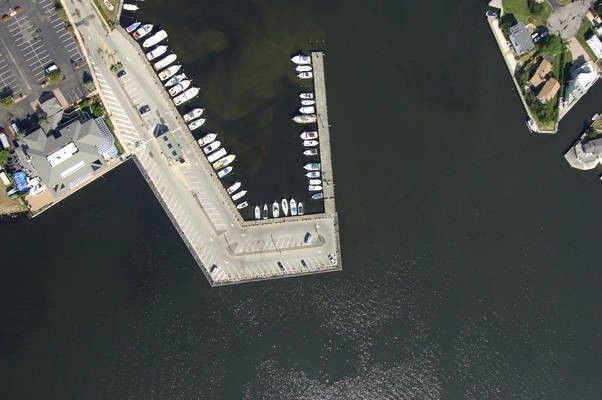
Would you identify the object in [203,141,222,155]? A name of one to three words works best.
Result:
boat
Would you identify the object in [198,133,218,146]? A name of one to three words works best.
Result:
boat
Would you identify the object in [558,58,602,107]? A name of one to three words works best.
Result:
house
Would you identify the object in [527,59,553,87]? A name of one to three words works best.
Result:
house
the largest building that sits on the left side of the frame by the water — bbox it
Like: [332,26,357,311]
[21,96,116,196]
